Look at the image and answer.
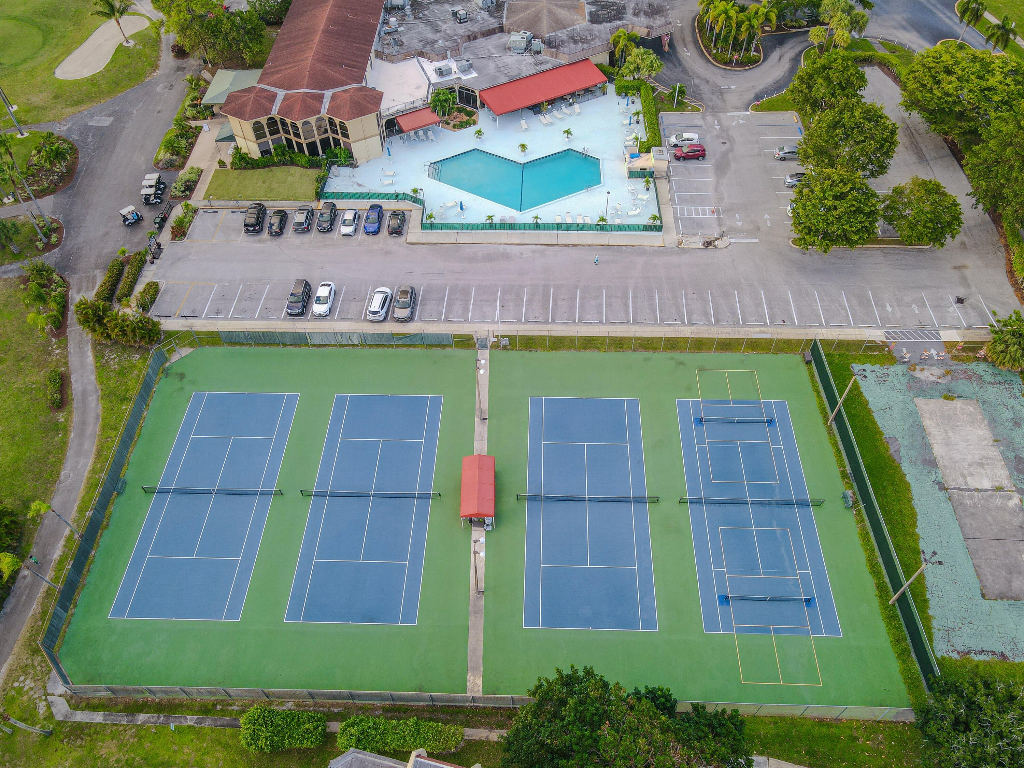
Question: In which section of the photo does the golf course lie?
top left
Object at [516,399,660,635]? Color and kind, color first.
blue tennis court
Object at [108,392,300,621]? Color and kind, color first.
blue tennis court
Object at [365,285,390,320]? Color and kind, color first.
white car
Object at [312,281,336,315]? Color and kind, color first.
white car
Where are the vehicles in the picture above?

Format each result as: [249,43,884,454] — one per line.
[363,204,383,233]
[387,208,406,234]
[392,283,415,320]
[243,203,268,231]
[292,202,315,230]
[142,179,163,195]
[674,143,708,161]
[285,275,311,313]
[267,207,289,234]
[118,205,142,226]
[783,170,810,186]
[145,173,166,189]
[339,207,360,235]
[365,285,390,320]
[140,188,162,206]
[773,144,811,160]
[669,131,702,147]
[315,199,337,229]
[312,281,336,315]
